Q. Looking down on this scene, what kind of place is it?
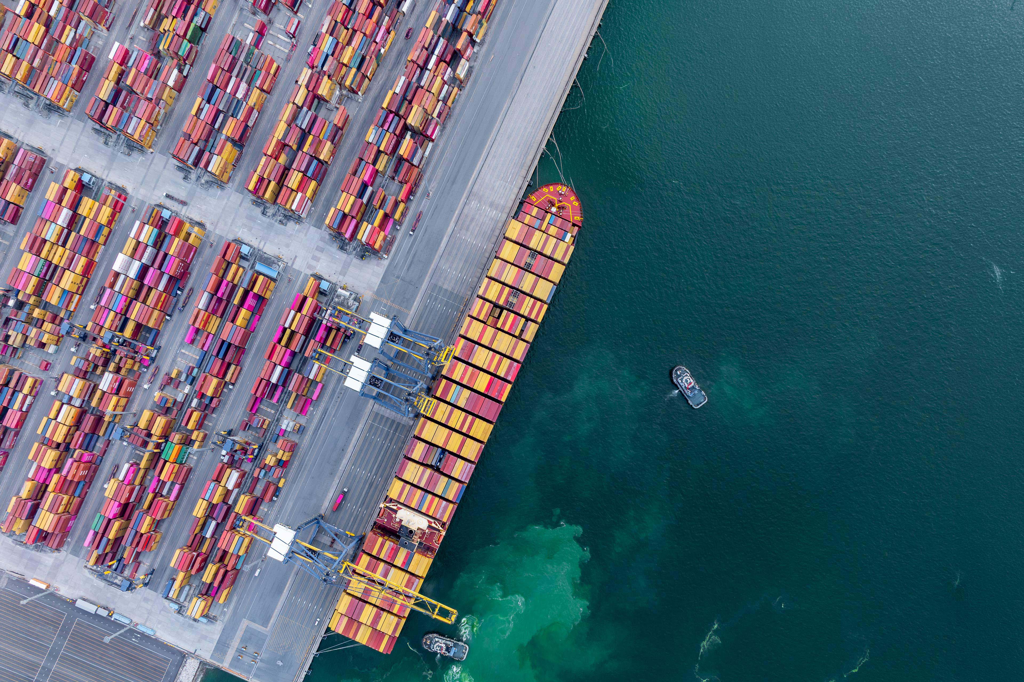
port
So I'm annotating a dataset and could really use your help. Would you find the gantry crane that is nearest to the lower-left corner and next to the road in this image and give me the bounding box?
[96,556,152,593]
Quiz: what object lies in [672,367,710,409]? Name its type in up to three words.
boat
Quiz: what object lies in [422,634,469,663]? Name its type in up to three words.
boat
